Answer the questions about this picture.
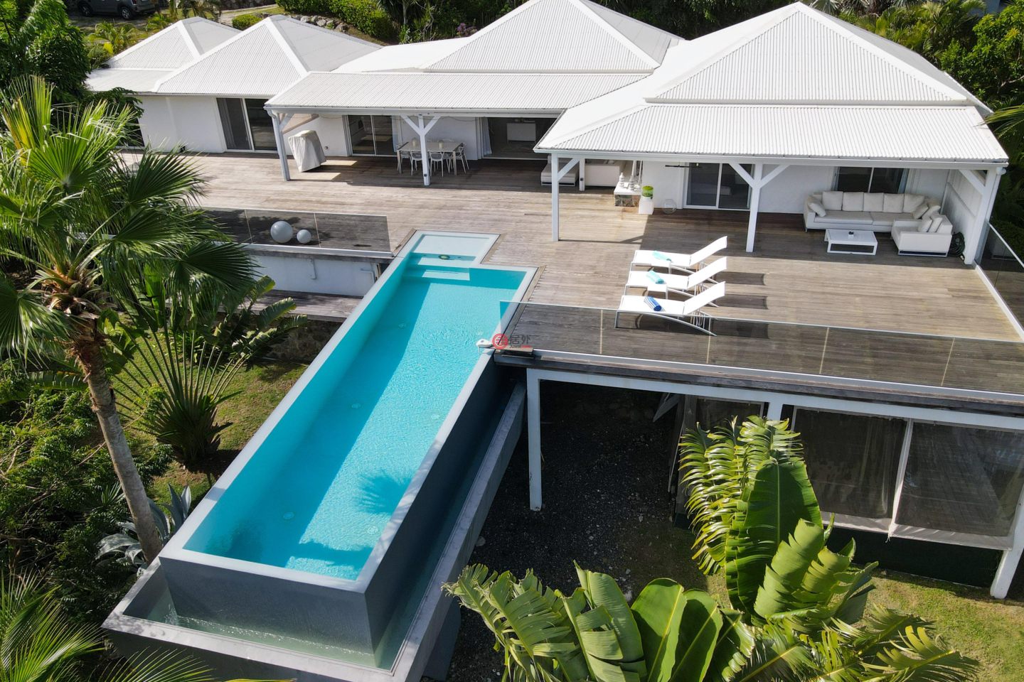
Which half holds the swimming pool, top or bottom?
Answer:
bottom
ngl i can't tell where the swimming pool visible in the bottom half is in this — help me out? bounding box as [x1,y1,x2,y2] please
[102,231,538,682]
